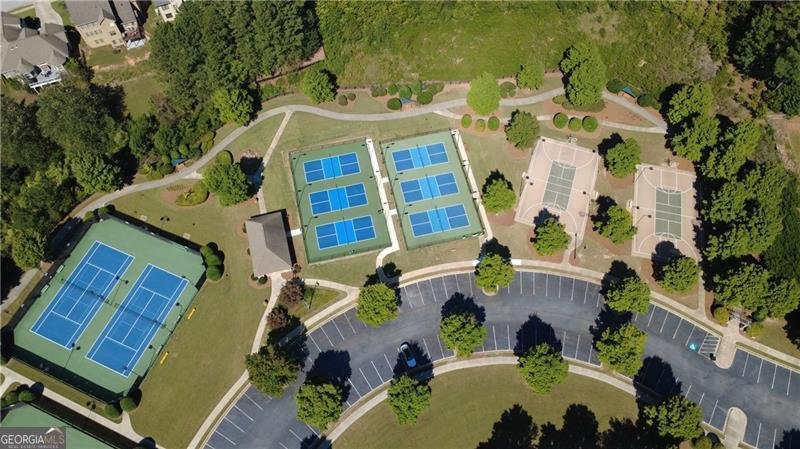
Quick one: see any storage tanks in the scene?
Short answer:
No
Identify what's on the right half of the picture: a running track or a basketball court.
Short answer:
basketball court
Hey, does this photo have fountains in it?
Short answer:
No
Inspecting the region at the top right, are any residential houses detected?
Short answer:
No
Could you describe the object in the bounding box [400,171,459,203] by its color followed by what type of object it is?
blue sports court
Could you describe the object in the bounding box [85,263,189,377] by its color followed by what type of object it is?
blue tennis court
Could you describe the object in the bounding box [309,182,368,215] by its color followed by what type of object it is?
blue sports court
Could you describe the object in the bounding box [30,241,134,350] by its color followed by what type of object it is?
blue tennis court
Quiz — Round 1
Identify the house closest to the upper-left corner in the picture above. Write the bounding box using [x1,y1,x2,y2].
[0,15,77,89]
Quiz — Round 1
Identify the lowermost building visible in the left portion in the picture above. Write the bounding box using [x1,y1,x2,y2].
[245,212,293,277]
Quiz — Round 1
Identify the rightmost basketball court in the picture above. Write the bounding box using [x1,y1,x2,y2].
[628,162,704,271]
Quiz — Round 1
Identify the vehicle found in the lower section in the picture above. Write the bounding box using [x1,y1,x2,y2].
[401,345,416,365]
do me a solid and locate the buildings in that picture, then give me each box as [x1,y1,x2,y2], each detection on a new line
[153,0,184,23]
[75,0,156,56]
[0,15,77,89]
[245,212,293,277]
